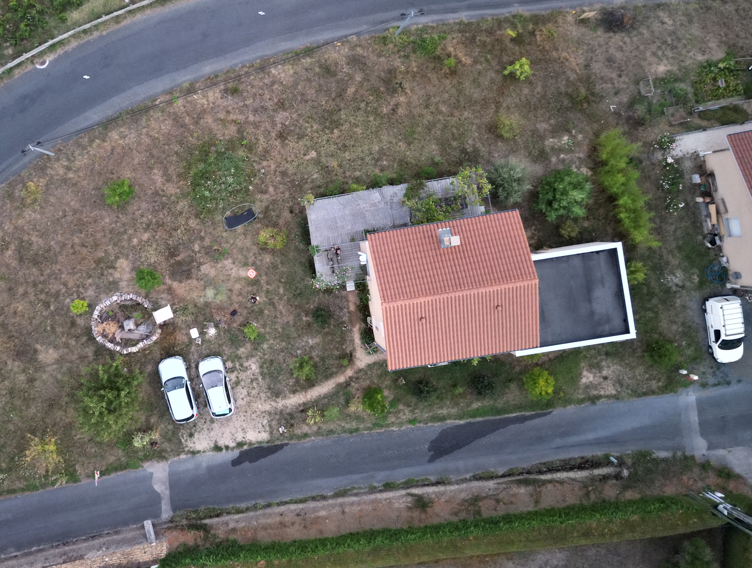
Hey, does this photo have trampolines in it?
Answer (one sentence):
Yes, looking at the shot, I can spot a trampoline.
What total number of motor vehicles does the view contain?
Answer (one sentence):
My tally gives 3 motor vehicles in this view.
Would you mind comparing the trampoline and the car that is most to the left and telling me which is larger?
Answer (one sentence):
Compared with the trampoline, the car is the bigger one.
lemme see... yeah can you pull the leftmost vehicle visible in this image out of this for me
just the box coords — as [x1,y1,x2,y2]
[159,355,200,425]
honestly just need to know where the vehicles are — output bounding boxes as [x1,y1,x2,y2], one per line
[201,355,239,420]
[702,296,749,364]
[159,355,200,425]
